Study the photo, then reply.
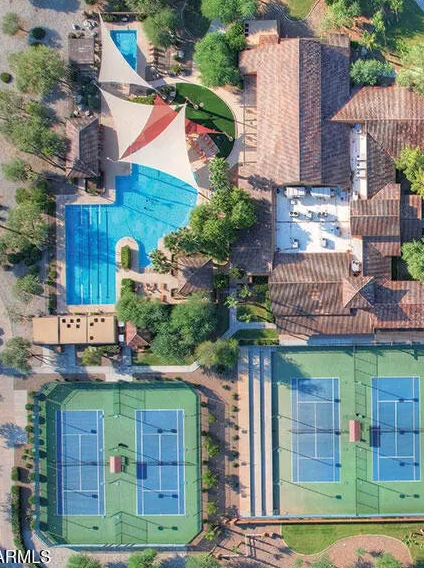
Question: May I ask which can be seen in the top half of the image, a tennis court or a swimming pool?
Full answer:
The feature located in the top half of the image is a swimming pool.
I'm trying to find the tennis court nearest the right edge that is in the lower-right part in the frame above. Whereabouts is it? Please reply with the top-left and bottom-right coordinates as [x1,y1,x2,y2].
[356,345,424,518]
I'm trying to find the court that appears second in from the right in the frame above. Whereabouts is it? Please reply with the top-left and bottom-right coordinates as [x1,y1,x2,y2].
[273,346,356,518]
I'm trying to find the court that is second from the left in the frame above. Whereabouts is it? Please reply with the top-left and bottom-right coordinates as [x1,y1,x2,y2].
[120,382,202,545]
